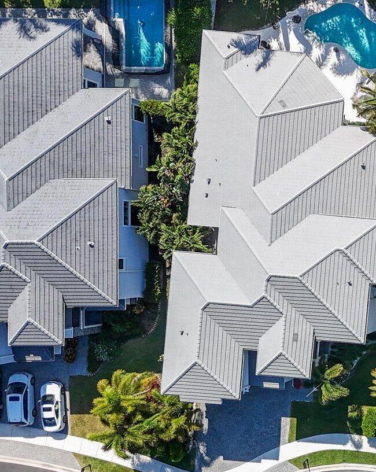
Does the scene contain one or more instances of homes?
Yes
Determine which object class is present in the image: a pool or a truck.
pool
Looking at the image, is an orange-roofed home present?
No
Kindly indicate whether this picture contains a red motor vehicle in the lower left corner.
No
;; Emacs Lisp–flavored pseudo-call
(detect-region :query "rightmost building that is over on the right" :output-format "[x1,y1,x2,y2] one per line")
[161,28,376,406]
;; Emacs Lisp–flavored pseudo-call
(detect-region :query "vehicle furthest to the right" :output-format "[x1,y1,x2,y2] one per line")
[38,381,69,432]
